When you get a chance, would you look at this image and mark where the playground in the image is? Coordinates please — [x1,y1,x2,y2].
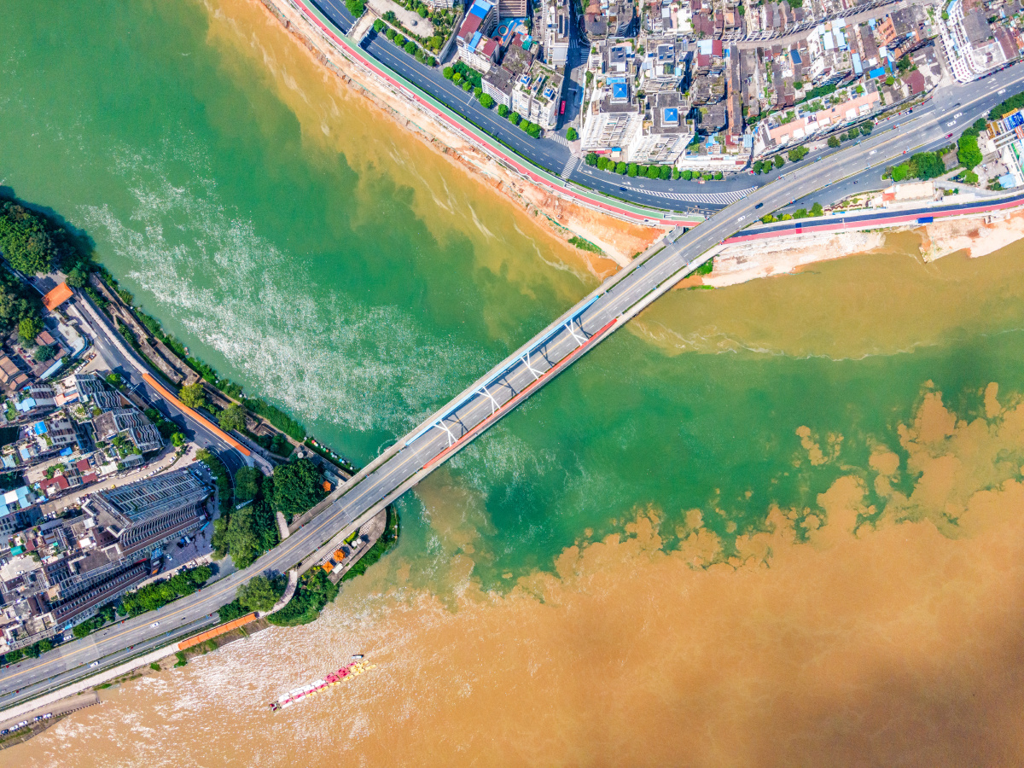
[491,19,531,48]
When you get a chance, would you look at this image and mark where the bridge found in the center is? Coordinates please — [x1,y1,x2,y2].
[280,121,913,567]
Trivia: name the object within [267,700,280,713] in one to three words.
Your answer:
boat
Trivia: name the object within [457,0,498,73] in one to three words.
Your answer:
building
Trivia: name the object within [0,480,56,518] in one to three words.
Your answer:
building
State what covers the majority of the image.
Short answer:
water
